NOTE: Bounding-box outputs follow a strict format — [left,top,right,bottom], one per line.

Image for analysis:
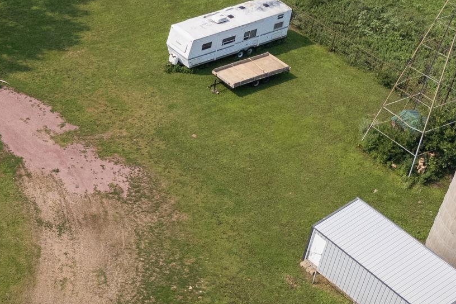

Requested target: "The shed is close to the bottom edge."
[304,200,456,304]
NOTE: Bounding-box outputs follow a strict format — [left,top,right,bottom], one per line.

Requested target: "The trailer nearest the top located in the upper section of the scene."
[164,0,292,70]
